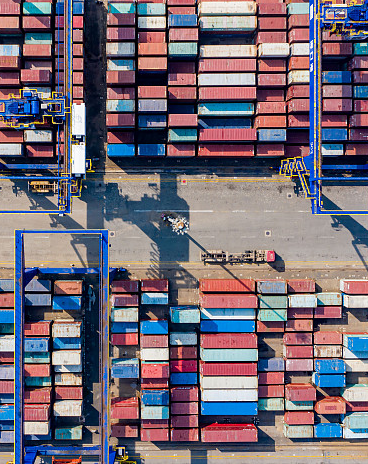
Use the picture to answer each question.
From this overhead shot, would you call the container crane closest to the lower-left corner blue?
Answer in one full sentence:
Yes, blue is the color of the container crane closest to the lower-left corner.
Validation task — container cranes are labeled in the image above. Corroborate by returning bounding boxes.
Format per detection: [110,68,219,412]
[0,0,99,216]
[266,0,368,215]
[12,230,132,464]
